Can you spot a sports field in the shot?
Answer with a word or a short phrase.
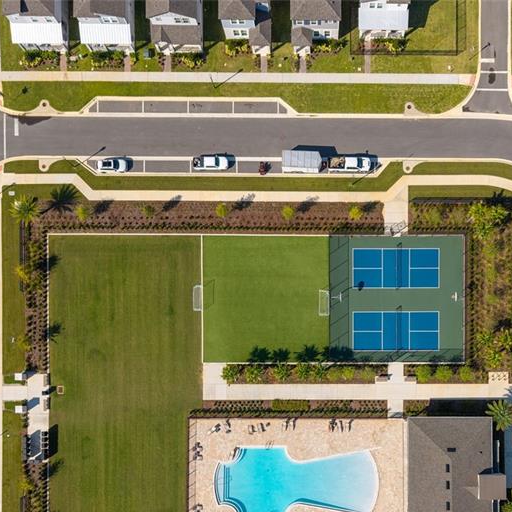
Yes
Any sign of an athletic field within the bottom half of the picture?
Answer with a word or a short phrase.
Yes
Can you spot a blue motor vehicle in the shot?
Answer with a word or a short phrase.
No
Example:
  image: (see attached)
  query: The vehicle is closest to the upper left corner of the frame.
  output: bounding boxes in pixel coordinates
[98,158,128,173]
